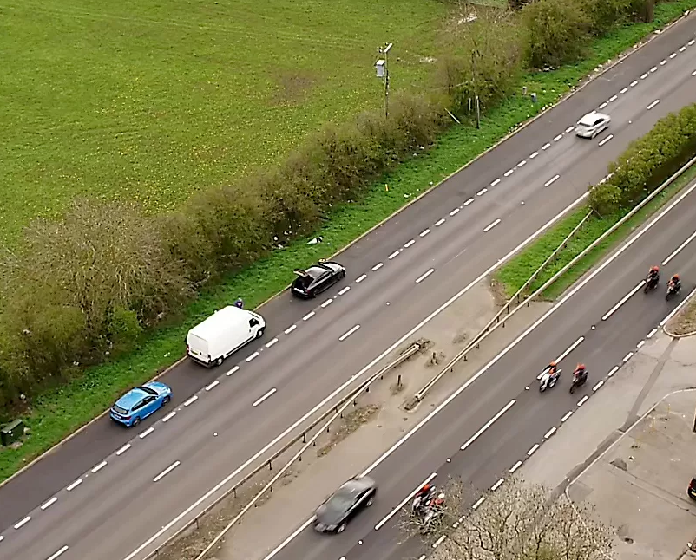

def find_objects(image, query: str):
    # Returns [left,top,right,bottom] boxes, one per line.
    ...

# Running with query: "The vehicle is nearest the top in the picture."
[576,110,615,135]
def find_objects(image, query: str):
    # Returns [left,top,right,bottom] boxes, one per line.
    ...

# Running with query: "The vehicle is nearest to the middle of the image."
[296,255,351,290]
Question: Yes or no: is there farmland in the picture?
Yes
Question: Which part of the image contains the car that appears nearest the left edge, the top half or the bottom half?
bottom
